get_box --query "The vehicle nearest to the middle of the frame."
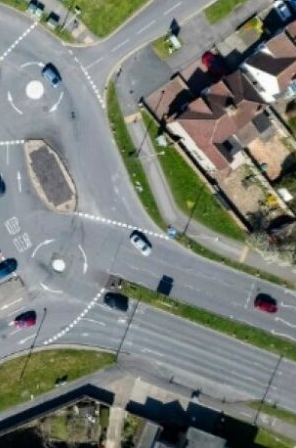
[130,233,154,257]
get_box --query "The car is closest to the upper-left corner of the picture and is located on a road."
[42,63,62,87]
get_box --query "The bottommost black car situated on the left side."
[104,296,131,312]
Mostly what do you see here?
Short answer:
paved ground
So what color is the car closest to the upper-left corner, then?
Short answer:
blue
